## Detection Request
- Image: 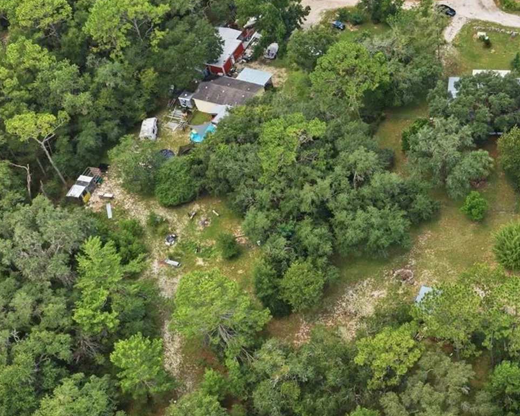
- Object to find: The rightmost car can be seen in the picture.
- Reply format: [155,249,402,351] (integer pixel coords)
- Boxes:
[435,0,456,13]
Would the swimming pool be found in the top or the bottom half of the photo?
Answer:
top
